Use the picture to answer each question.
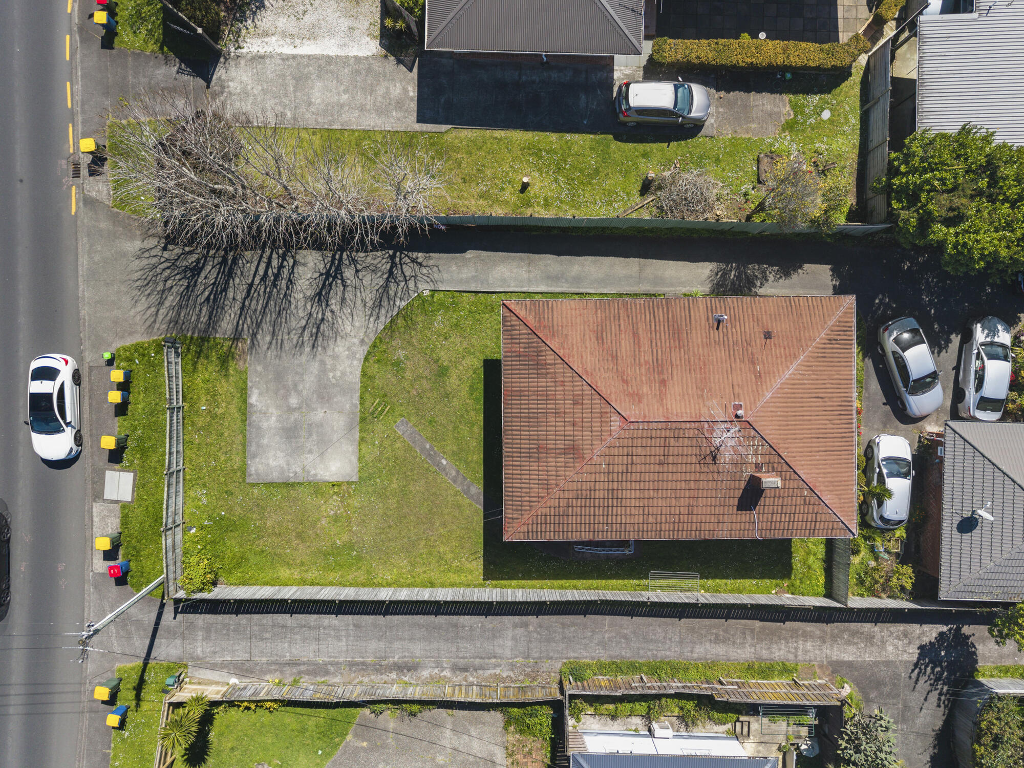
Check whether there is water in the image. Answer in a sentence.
No, no water is visible.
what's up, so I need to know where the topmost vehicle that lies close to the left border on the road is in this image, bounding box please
[20,353,80,465]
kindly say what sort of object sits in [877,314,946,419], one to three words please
car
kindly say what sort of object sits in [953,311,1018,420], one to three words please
car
